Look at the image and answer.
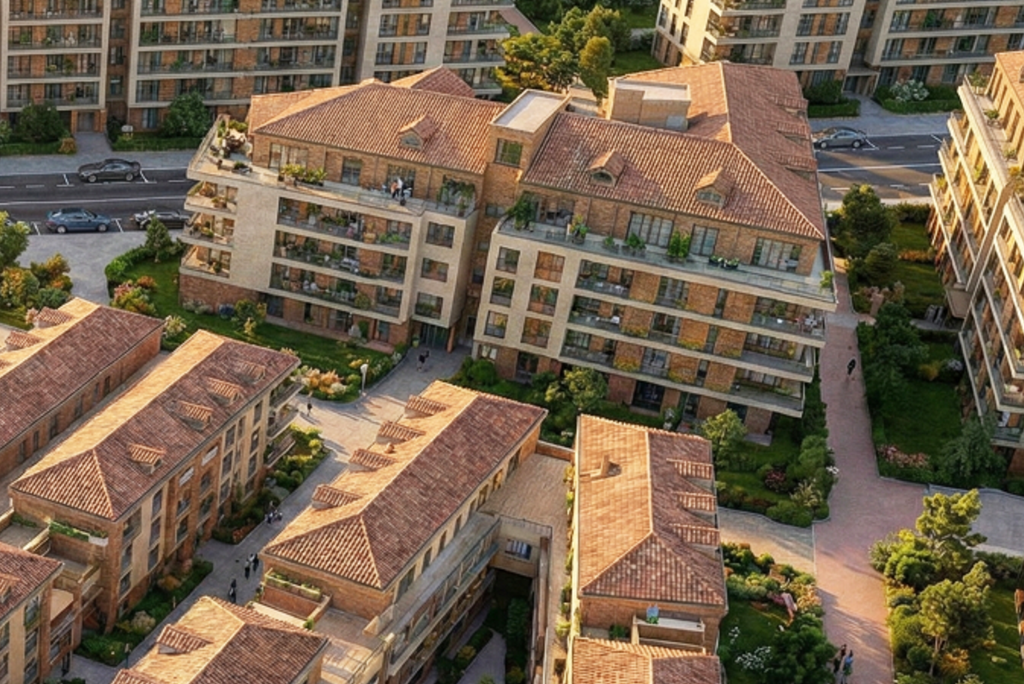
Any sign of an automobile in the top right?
Yes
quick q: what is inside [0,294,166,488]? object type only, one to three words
house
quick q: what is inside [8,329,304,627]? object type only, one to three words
house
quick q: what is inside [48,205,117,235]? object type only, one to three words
car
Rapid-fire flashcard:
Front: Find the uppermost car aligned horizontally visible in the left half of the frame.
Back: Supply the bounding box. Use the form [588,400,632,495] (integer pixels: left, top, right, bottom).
[78,154,144,183]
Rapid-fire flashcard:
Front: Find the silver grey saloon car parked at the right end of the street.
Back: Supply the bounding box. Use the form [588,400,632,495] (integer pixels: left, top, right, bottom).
[816,123,870,148]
